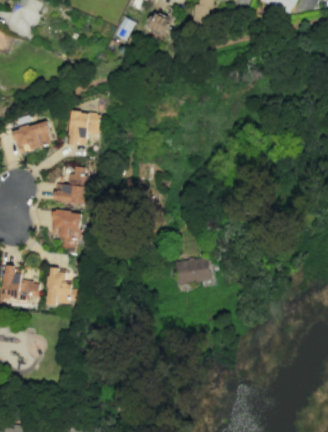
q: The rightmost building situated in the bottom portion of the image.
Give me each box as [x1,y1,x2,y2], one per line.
[178,258,214,284]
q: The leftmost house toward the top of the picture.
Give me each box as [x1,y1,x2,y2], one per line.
[12,117,56,153]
